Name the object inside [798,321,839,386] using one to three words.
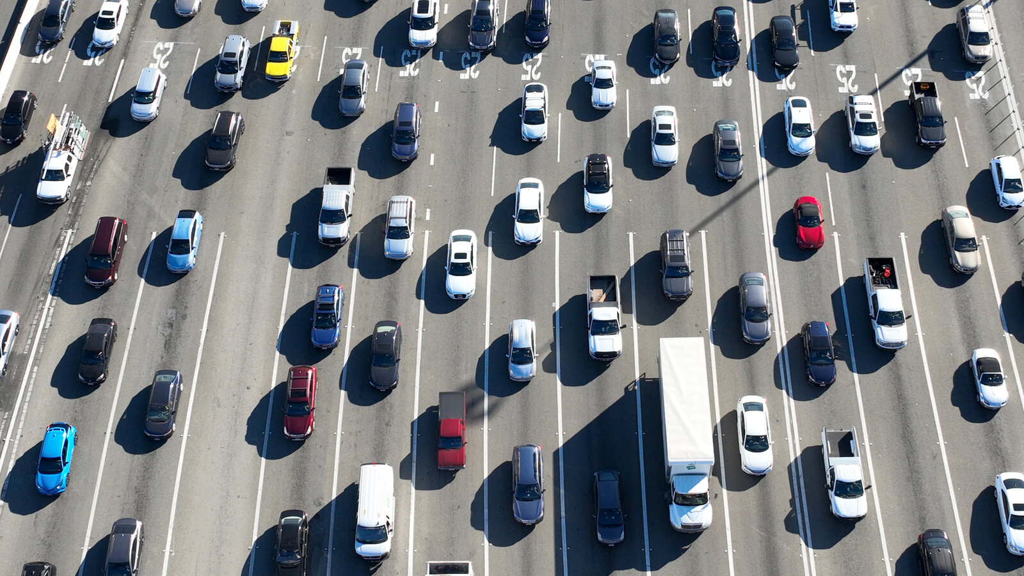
car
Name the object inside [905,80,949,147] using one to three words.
truck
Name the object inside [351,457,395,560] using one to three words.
van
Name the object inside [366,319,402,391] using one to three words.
car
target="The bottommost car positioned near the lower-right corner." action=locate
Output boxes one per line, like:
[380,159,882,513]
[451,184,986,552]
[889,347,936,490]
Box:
[915,527,959,576]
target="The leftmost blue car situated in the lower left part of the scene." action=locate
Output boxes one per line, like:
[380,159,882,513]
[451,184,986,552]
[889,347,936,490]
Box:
[33,424,81,496]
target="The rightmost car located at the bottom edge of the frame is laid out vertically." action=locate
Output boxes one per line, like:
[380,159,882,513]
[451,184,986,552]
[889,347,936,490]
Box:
[991,474,1024,556]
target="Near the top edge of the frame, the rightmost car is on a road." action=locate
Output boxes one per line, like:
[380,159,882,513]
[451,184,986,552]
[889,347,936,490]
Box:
[954,8,994,64]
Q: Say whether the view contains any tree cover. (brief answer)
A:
No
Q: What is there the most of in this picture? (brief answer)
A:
paved ground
